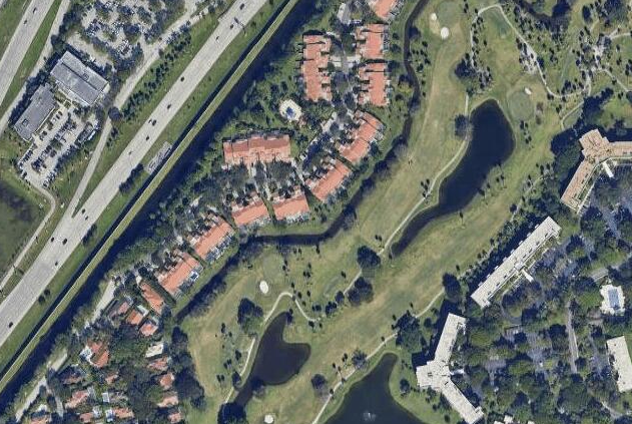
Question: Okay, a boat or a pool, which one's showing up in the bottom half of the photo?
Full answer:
It is a pool that can be seen in the bottom half of the photo.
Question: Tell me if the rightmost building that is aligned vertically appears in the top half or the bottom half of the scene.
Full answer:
You can find the rightmost building that is aligned vertically in the bottom half.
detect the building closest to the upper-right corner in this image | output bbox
[560,129,632,211]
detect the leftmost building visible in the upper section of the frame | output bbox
[15,84,57,141]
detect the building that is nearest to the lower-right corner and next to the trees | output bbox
[607,335,632,391]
